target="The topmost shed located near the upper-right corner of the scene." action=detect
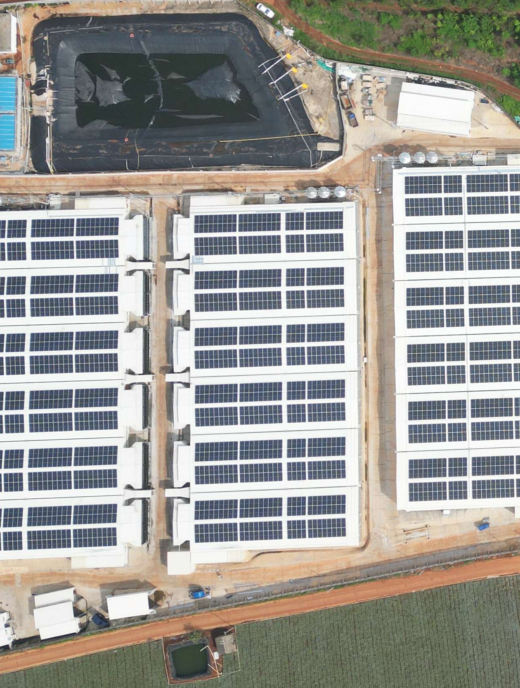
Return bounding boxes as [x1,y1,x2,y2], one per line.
[397,82,474,138]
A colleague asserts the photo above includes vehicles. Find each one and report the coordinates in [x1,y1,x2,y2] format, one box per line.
[90,612,108,628]
[348,112,358,128]
[33,619,81,644]
[0,612,11,631]
[189,590,205,599]
[477,522,492,532]
[255,2,274,18]
[27,587,77,612]
[340,92,354,113]
[0,628,18,647]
